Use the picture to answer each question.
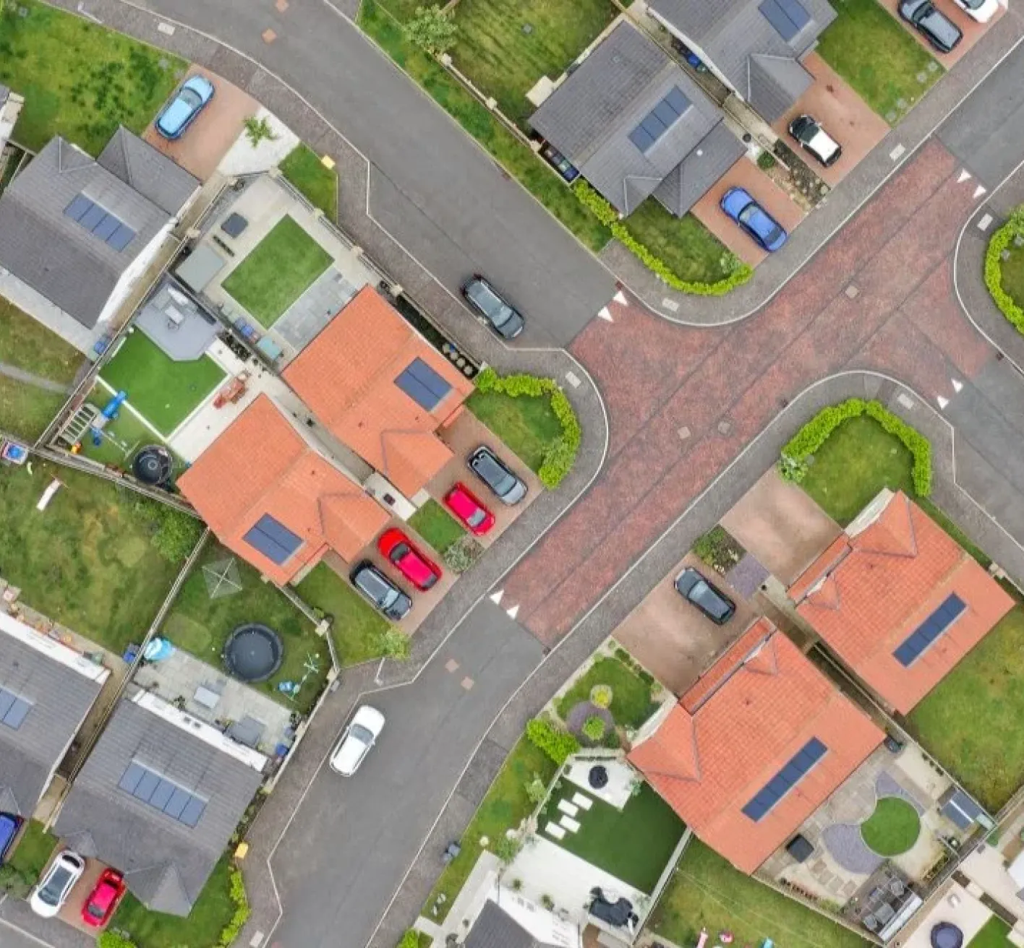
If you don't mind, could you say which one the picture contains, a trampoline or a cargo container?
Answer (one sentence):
The image shows a trampoline.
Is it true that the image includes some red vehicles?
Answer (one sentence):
Yes, the photo shows a red vehicle.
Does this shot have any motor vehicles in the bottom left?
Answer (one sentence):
Yes, you'll find a motor vehicle in the bottom left.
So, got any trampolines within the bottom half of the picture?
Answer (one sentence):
Yes, a trampoline is visible within the bottom half of the picture.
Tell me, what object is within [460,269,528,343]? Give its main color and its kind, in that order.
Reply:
gray car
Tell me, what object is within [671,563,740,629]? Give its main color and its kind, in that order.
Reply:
gray car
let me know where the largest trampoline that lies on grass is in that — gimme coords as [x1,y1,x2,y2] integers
[222,622,283,683]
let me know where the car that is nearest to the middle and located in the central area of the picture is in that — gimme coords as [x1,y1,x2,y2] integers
[463,440,531,509]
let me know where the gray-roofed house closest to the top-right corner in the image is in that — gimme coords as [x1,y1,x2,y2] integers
[644,0,840,126]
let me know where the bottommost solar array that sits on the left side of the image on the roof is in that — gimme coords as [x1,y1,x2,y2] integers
[117,757,211,828]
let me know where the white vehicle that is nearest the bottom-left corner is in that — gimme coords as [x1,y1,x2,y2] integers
[29,847,88,922]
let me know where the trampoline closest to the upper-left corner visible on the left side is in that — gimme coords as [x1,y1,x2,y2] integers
[121,445,173,486]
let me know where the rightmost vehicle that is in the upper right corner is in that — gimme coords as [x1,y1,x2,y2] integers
[955,0,1012,35]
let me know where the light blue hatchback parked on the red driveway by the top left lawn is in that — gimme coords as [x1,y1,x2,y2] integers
[156,72,213,144]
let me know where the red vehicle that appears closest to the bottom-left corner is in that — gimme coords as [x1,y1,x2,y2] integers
[81,863,127,930]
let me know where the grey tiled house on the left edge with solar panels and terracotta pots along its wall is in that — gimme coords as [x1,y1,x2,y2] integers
[0,606,120,822]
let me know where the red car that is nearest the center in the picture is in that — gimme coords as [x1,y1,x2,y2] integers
[439,478,500,540]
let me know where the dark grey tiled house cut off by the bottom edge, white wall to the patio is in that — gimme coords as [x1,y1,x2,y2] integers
[461,882,615,948]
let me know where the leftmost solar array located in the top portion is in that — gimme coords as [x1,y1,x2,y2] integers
[60,190,140,251]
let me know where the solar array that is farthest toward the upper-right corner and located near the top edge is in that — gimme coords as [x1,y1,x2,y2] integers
[760,0,812,46]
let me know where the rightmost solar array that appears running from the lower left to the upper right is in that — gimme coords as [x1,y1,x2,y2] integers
[893,592,971,669]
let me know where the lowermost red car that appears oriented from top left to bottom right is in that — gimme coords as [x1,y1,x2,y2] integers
[376,525,446,595]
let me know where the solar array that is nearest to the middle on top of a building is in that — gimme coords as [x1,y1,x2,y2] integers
[394,356,457,414]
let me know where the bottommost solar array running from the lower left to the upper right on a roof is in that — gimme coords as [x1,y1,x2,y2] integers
[742,737,831,823]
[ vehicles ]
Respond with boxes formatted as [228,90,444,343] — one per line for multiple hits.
[156,72,213,144]
[345,557,416,624]
[29,847,88,922]
[955,0,1012,35]
[376,525,446,595]
[0,817,26,869]
[81,863,127,930]
[463,440,531,509]
[720,183,789,255]
[671,563,740,629]
[460,269,528,343]
[439,478,500,540]
[894,0,964,59]
[786,110,847,171]
[331,702,384,779]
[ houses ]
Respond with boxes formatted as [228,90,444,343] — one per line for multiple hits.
[52,693,270,917]
[784,491,1016,715]
[0,606,120,822]
[280,284,477,498]
[529,18,748,219]
[644,0,840,126]
[0,82,27,143]
[628,611,888,876]
[461,882,615,948]
[176,391,394,588]
[0,125,209,330]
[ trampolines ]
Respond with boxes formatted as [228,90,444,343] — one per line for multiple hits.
[222,622,283,683]
[121,445,173,486]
